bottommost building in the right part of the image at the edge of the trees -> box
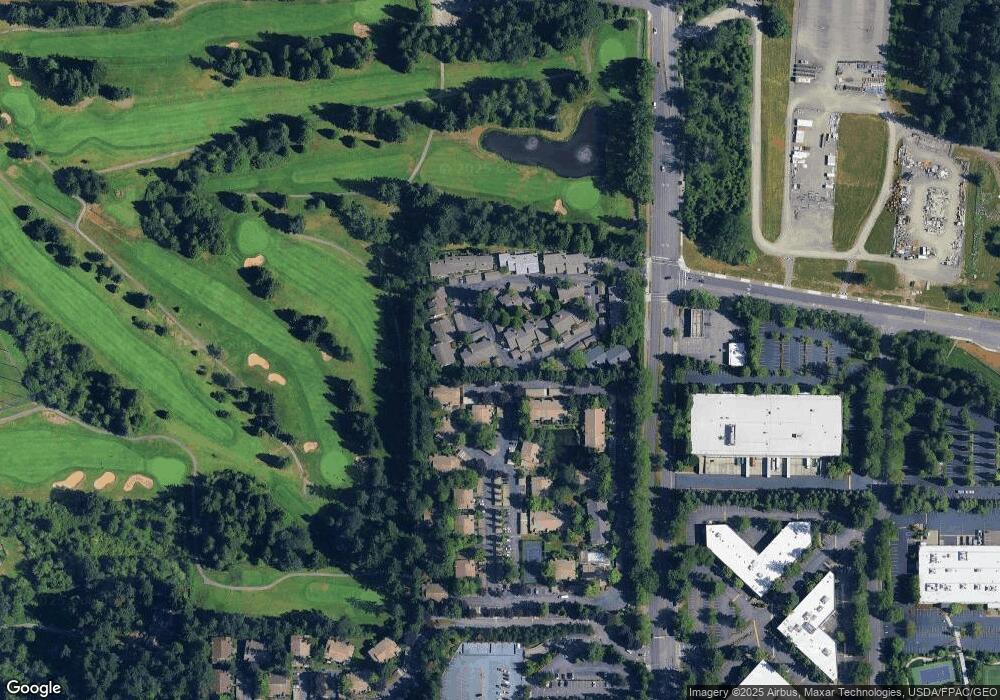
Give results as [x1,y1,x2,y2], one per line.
[729,660,807,700]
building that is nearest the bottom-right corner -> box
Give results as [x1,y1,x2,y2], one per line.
[919,546,1000,610]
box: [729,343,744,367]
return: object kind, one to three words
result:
building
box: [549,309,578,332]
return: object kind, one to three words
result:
house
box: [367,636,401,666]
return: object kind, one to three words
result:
house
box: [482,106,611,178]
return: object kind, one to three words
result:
pond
